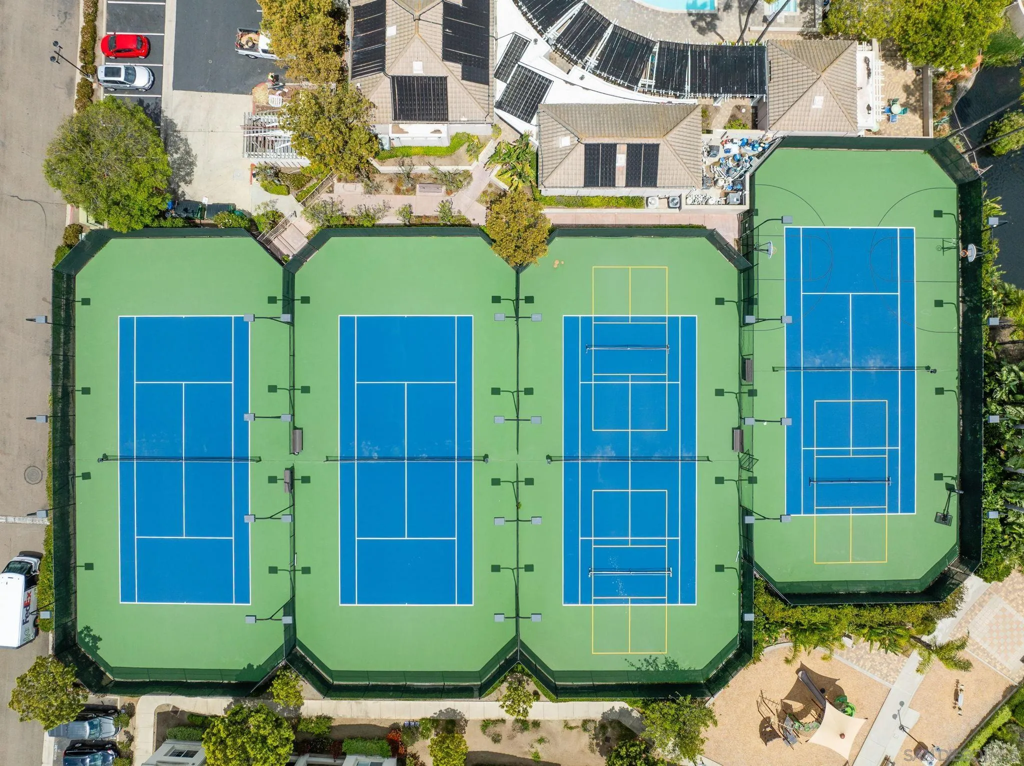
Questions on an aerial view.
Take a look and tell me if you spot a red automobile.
Yes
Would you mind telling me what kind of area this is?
sports ground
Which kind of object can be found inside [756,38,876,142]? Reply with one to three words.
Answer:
building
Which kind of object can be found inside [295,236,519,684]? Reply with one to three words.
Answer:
tennis court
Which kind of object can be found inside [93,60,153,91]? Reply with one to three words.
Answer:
car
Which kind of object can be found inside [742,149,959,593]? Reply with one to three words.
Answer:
tennis court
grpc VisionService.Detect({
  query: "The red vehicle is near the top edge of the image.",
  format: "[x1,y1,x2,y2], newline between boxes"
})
[102,29,152,59]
